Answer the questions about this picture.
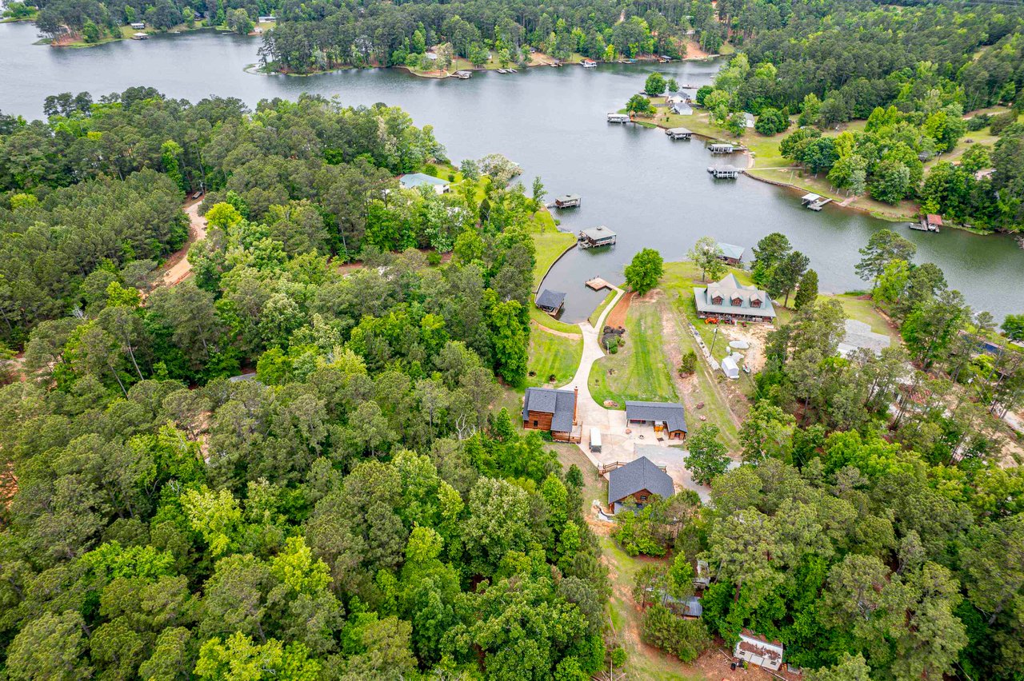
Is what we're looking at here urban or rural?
rural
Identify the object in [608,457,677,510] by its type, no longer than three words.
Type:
building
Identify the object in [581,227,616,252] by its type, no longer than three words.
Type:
building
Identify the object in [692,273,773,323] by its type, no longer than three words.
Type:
house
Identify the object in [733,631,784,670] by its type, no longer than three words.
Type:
vehicle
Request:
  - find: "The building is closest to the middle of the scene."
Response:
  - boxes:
[537,293,570,321]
